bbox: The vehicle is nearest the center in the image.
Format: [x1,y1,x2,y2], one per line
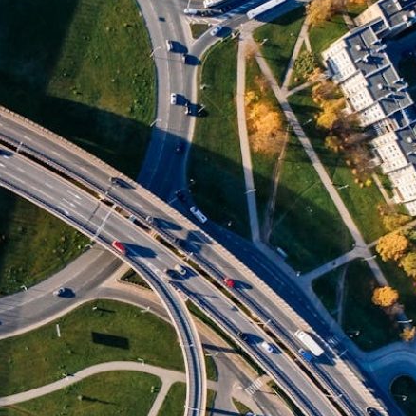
[190,206,207,222]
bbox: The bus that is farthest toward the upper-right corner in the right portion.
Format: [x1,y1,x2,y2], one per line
[247,0,285,20]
